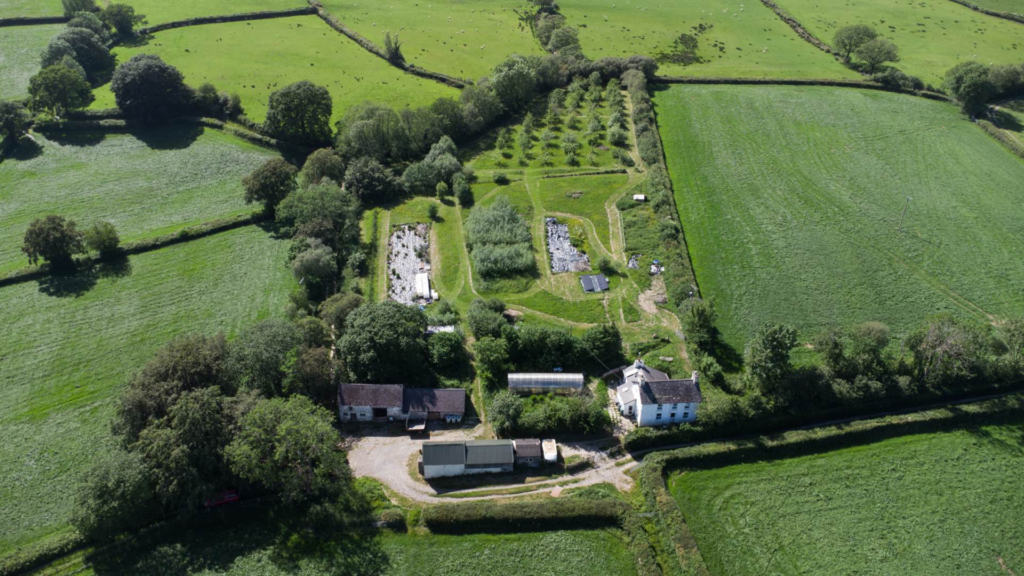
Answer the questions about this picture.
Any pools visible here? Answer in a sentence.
No, the scene contains no pool.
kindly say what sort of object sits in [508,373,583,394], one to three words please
greenhouse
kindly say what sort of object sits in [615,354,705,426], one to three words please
house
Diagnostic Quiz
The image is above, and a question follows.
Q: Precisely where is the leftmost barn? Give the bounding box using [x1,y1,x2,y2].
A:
[335,379,409,421]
